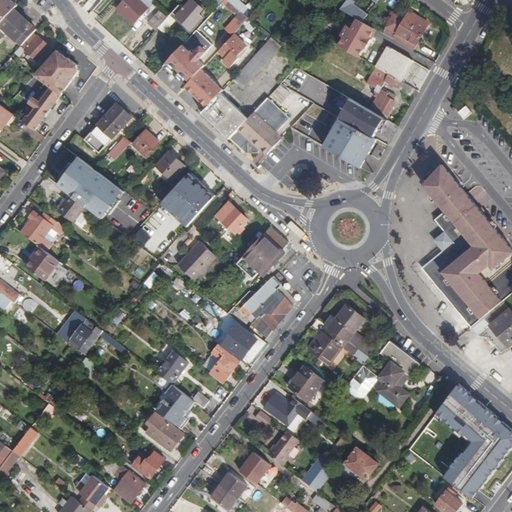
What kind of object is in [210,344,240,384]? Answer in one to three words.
house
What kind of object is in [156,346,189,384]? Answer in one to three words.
house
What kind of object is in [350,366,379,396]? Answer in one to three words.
building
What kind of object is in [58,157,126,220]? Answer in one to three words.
building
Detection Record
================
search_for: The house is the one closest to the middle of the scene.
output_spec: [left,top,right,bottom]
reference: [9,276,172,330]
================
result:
[240,225,288,278]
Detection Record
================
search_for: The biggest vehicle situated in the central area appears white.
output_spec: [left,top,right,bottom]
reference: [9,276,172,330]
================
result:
[292,221,312,240]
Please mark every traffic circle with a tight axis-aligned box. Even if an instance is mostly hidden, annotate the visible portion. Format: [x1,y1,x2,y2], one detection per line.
[309,188,388,268]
